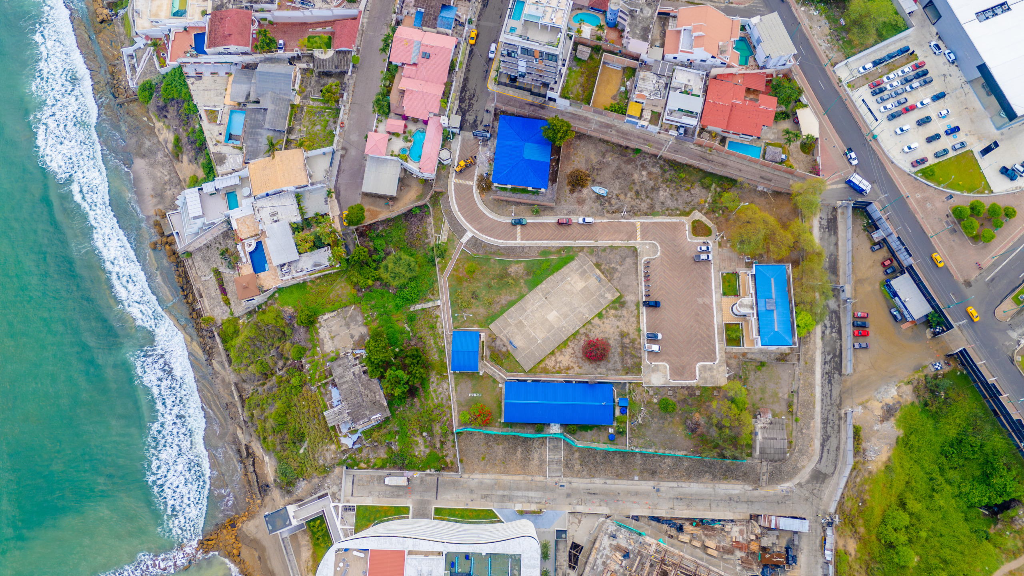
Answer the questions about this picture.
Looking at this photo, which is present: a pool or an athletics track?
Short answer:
pool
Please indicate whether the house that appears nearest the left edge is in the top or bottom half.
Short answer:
top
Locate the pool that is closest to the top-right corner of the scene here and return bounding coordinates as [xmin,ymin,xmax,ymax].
[733,35,754,67]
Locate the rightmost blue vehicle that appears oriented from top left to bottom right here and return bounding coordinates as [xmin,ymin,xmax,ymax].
[1001,165,1020,179]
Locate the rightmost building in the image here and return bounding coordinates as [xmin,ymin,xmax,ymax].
[913,0,1024,131]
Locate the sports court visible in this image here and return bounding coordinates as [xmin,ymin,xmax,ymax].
[489,253,620,372]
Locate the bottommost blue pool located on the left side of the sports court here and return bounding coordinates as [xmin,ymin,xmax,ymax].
[247,239,271,275]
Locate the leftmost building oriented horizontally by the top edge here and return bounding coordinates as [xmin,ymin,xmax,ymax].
[133,0,216,38]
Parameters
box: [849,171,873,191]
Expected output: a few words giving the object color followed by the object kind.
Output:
white vehicle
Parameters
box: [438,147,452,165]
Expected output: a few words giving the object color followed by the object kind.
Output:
white gazebo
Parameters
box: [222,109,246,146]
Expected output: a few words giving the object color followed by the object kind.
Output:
blue swimming pool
